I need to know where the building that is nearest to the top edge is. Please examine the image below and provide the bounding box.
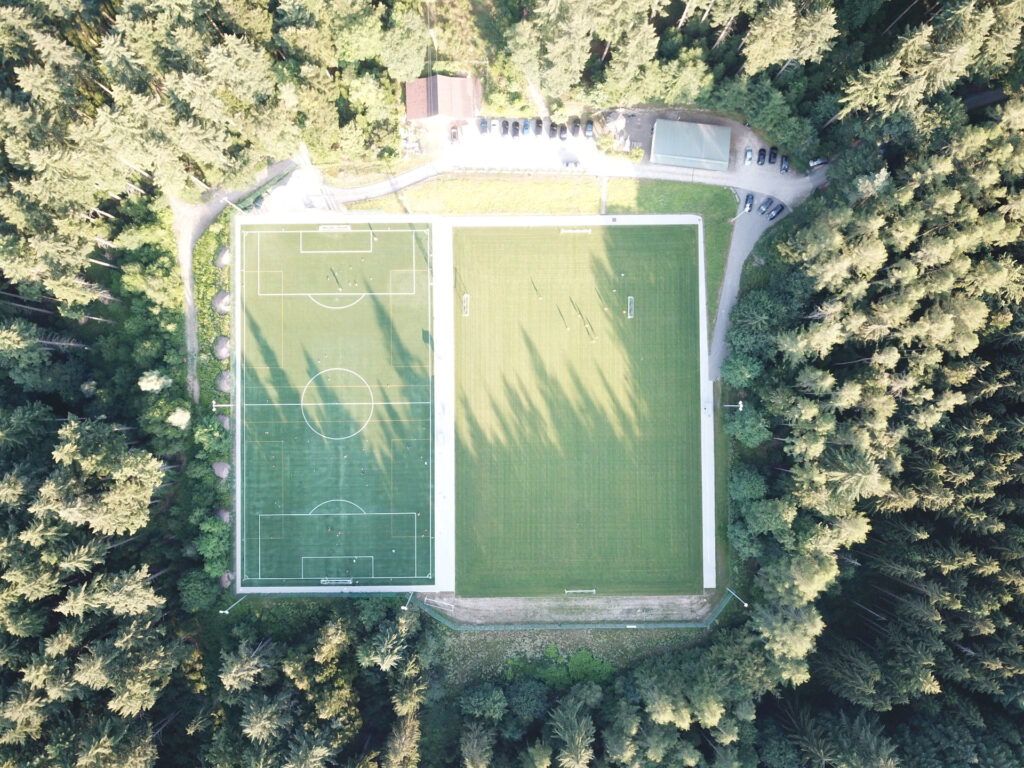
[407,72,483,122]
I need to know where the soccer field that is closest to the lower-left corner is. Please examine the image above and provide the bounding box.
[240,223,435,587]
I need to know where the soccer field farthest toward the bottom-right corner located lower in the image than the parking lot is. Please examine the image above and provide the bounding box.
[453,225,704,597]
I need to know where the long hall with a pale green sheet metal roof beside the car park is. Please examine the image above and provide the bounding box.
[650,119,732,171]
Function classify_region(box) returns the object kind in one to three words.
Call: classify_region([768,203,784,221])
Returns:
car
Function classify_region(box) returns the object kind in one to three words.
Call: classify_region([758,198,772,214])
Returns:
car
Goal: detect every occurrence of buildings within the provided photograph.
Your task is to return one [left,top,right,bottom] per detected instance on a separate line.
[650,119,732,171]
[407,72,483,122]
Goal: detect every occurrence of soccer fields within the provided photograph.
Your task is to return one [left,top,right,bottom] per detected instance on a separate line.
[453,225,704,597]
[240,223,435,587]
